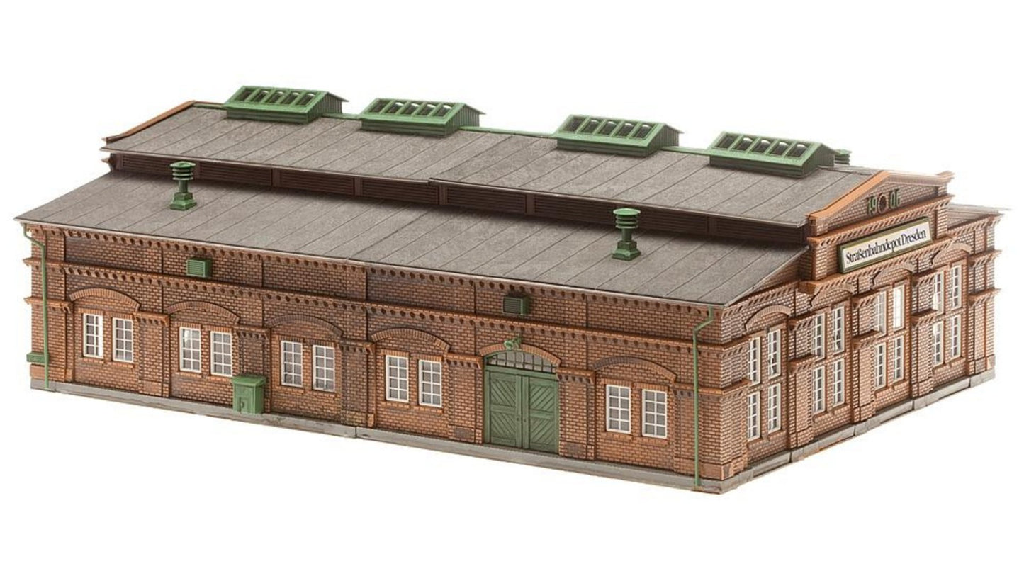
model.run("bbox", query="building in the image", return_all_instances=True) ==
[14,85,1010,494]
